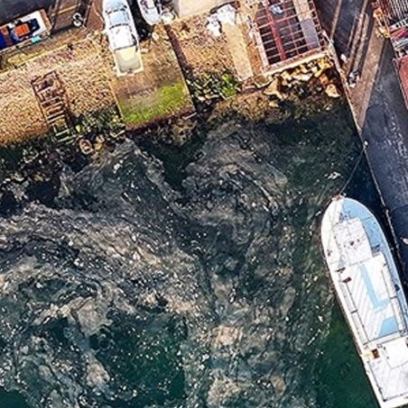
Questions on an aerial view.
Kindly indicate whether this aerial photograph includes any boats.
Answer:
Yes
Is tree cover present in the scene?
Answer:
No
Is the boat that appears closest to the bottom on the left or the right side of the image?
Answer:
right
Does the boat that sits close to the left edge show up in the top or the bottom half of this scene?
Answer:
top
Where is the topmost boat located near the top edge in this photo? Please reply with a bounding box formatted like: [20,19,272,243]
[136,0,161,25]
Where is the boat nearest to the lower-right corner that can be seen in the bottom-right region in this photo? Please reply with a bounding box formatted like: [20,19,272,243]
[320,190,408,408]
